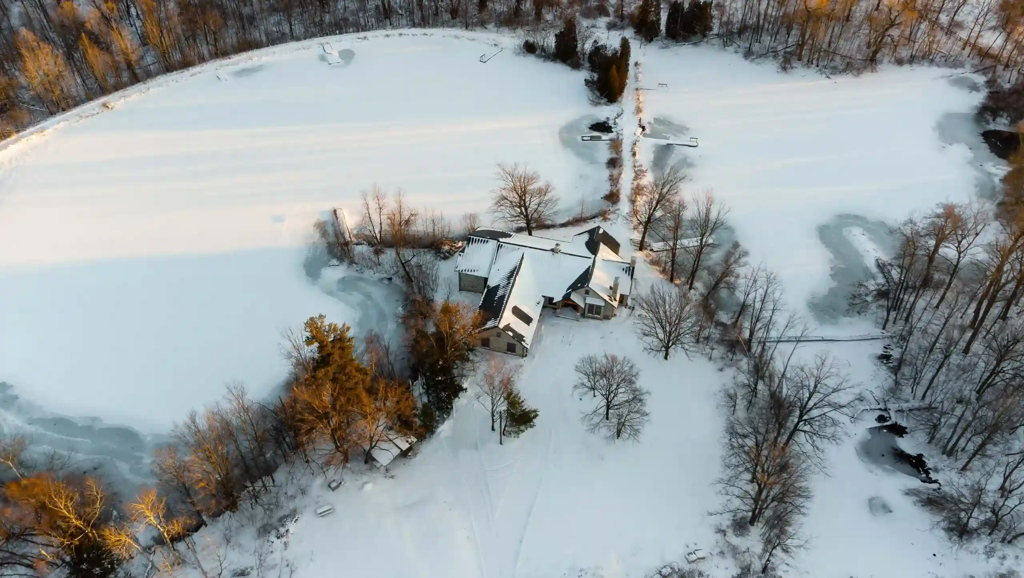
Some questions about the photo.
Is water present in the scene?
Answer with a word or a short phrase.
Yes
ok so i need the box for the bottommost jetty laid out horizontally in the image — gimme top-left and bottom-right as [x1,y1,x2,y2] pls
[650,239,716,251]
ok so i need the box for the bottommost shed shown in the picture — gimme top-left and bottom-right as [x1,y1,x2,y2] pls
[366,425,417,479]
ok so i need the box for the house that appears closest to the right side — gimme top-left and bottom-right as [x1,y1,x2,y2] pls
[451,226,636,355]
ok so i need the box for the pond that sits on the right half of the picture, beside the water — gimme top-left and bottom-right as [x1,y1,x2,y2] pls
[641,47,1024,341]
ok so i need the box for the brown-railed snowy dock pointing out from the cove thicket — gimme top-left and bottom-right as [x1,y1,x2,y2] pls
[332,209,350,244]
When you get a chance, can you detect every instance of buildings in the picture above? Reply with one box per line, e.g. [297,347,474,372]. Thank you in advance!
[366,425,417,479]
[451,226,636,355]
